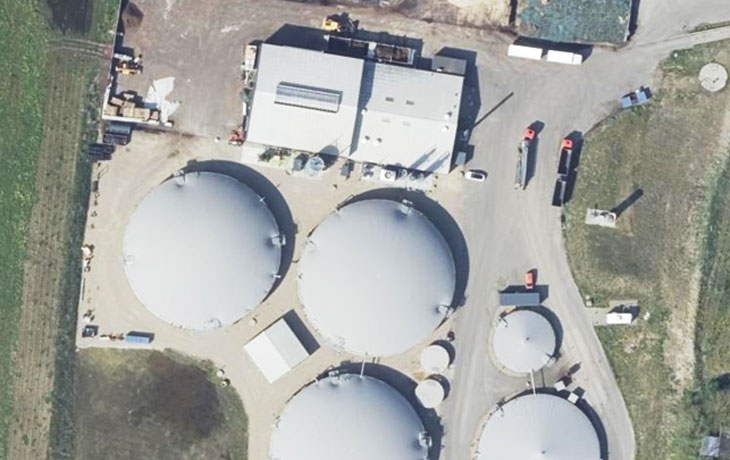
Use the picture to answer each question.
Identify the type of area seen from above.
industrial area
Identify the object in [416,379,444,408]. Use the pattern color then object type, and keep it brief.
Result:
white silo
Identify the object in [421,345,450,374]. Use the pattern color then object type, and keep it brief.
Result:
white silo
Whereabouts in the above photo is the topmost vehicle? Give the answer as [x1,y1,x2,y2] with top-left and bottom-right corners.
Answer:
[323,19,355,31]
